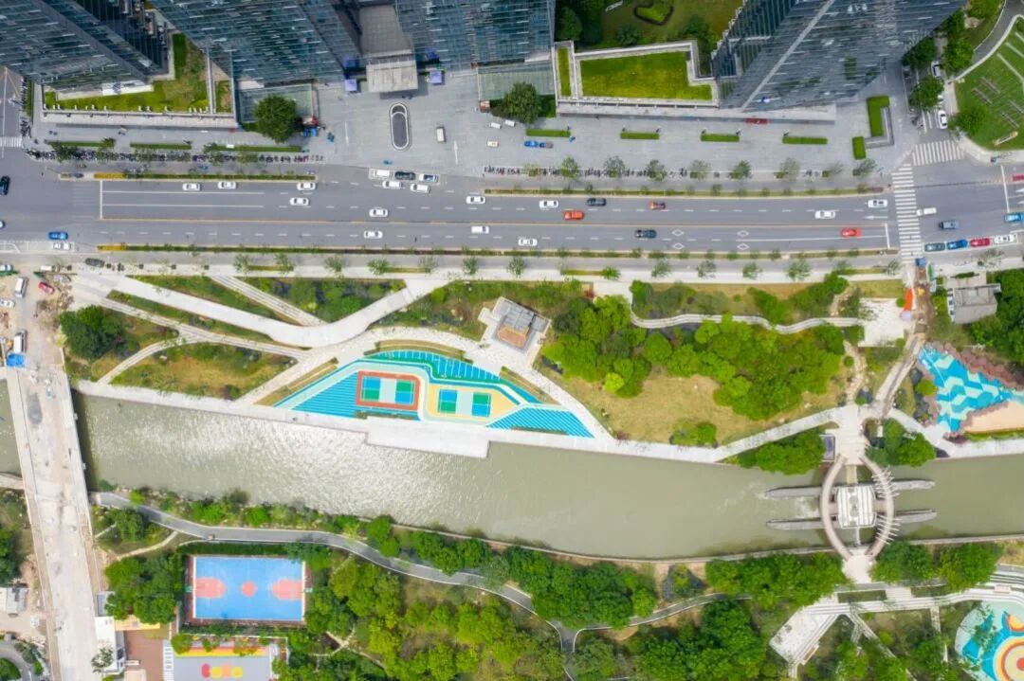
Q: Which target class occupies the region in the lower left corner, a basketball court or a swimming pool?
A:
basketball court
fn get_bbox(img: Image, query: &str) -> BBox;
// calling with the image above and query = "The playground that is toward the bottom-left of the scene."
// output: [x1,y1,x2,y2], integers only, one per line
[174,643,270,681]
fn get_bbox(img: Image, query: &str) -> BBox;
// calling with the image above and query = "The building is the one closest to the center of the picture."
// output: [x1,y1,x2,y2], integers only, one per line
[491,299,550,354]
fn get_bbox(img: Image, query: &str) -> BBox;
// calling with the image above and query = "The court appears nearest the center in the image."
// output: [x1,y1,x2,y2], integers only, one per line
[438,389,491,417]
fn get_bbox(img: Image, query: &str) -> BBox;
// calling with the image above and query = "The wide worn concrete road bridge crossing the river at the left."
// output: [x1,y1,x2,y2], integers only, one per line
[2,359,114,681]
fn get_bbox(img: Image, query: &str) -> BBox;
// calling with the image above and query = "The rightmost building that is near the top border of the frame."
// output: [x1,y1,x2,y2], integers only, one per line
[710,0,976,109]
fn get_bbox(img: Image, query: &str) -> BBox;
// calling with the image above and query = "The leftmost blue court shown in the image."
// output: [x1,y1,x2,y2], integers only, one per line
[185,554,306,625]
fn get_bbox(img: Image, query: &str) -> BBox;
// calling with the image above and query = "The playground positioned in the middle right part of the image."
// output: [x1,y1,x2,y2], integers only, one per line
[919,347,1024,433]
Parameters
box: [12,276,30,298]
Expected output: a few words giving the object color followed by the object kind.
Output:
white vehicle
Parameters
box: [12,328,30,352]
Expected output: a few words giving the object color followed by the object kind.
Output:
white vehicle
